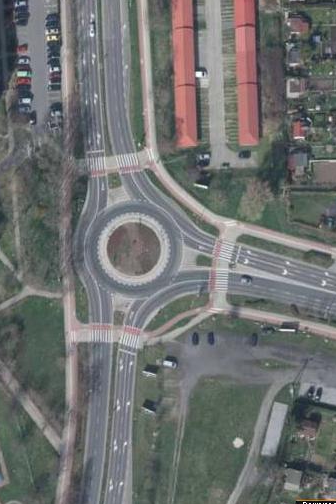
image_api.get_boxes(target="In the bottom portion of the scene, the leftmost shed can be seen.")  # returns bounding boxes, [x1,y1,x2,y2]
[260,402,288,457]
